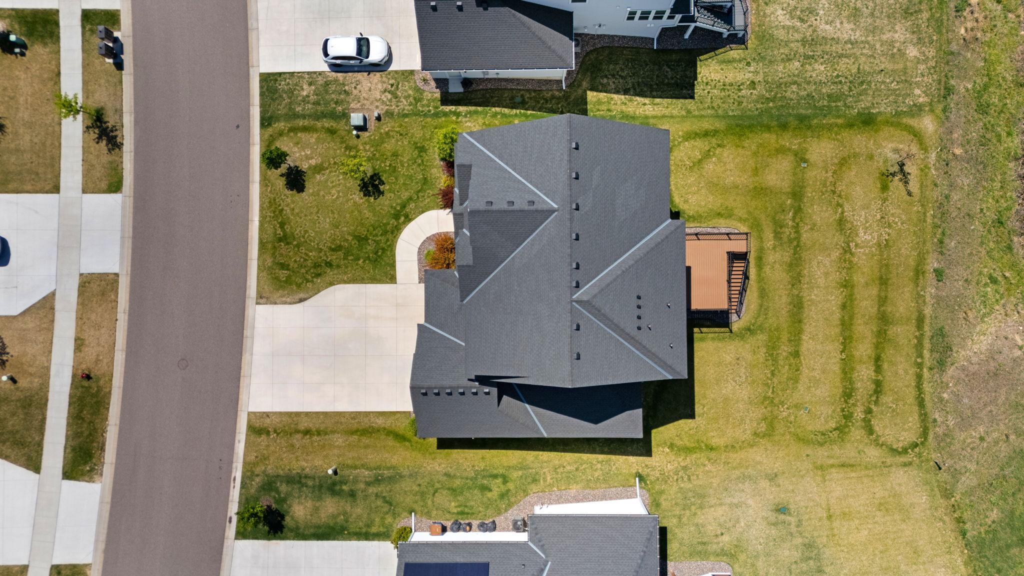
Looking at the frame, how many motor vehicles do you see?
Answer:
1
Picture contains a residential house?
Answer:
Yes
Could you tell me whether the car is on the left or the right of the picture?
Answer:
left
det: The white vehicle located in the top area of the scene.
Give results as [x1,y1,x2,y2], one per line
[322,31,391,67]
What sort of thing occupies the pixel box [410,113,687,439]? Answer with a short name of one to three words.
house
